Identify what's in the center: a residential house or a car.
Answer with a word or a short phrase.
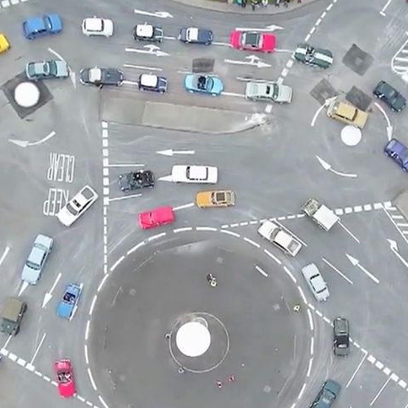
car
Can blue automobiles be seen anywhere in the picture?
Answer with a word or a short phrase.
Yes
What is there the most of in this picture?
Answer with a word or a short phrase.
paved ground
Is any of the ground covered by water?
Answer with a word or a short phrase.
No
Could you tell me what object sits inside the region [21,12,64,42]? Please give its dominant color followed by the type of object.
blue car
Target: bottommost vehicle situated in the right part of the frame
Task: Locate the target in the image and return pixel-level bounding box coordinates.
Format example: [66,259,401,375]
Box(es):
[310,378,339,408]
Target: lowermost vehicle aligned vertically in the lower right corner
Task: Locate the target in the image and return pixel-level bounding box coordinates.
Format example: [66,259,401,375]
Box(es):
[331,317,350,357]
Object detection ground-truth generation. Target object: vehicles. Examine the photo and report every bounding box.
[181,72,224,98]
[136,208,176,228]
[57,282,81,321]
[331,317,350,357]
[301,261,329,302]
[79,65,123,87]
[21,12,64,42]
[256,219,302,257]
[57,181,98,229]
[227,28,276,55]
[116,170,154,191]
[132,21,164,44]
[242,79,292,103]
[178,25,213,47]
[298,196,344,232]
[291,42,332,70]
[136,72,168,95]
[81,18,113,38]
[25,59,70,82]
[310,378,339,408]
[382,135,408,176]
[324,97,369,127]
[170,164,217,184]
[23,234,52,285]
[369,77,408,115]
[0,33,13,56]
[0,295,28,338]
